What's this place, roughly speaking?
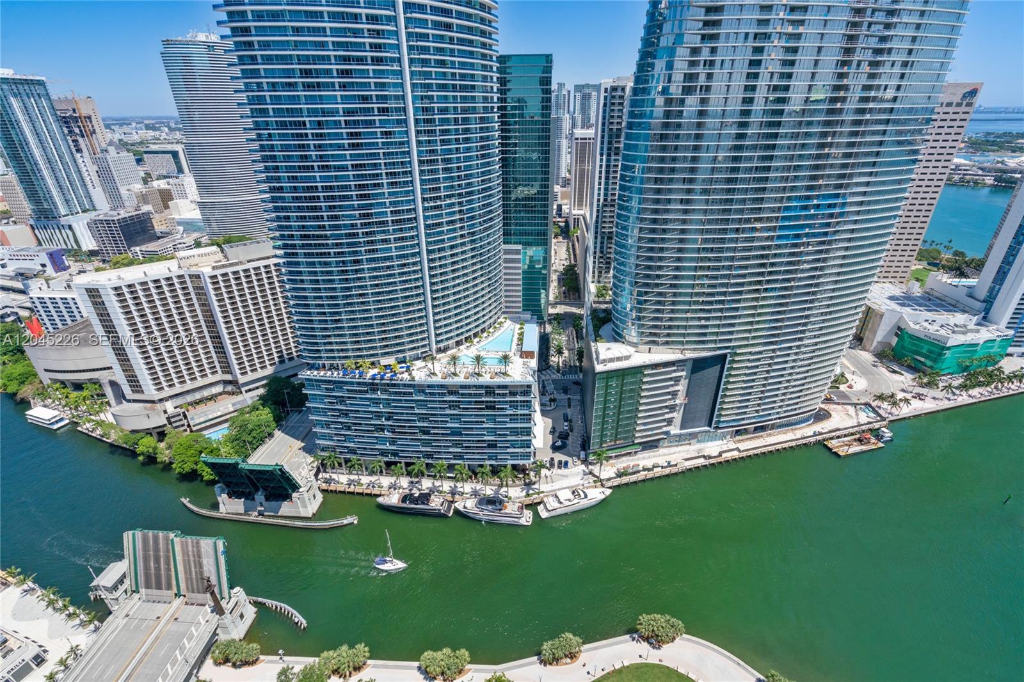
port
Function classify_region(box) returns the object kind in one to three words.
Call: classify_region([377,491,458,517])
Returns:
boat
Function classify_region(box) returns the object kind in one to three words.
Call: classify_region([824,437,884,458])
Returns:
ship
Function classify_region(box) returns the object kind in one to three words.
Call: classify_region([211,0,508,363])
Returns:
building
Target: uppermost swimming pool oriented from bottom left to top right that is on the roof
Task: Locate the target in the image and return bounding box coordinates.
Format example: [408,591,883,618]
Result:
[476,324,515,349]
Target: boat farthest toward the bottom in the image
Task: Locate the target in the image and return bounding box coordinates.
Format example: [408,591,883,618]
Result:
[374,536,406,569]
